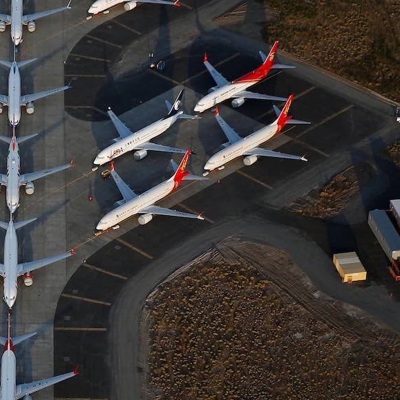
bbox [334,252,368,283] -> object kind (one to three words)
shed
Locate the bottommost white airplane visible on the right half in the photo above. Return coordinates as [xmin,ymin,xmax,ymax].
[204,94,310,173]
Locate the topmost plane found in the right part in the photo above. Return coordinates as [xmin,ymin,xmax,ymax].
[195,40,295,115]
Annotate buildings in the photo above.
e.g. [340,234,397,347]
[371,209,400,259]
[390,198,400,225]
[334,252,368,283]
